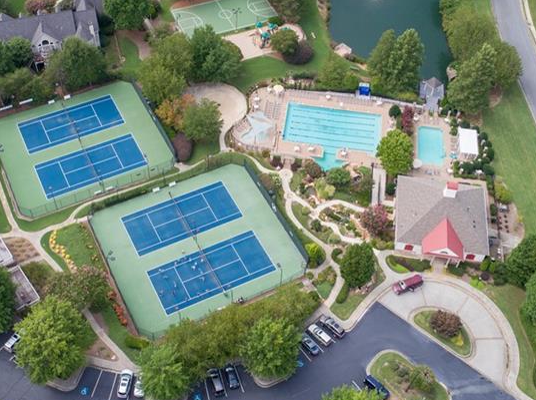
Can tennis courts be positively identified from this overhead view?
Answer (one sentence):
Yes, this view includes a tennis court.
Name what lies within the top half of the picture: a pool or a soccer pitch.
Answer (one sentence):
You can see a pool within the top half of the picture.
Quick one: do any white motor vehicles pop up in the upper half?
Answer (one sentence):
No, looking in the upper half, there is no white motor vehicle.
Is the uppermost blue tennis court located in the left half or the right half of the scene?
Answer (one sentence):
The uppermost blue tennis court sits on the left side.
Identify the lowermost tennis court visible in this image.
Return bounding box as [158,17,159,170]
[147,230,276,315]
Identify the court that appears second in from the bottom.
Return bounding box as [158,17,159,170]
[121,180,244,256]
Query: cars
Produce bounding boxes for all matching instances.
[225,363,241,390]
[395,274,422,292]
[364,372,392,397]
[134,369,146,396]
[116,369,131,396]
[299,331,322,355]
[208,365,226,397]
[320,312,346,337]
[0,327,20,353]
[307,322,332,345]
